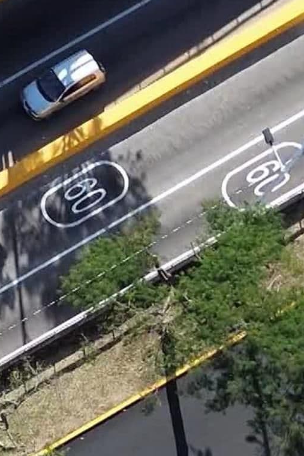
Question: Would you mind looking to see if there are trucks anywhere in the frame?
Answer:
No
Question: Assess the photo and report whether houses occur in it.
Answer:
No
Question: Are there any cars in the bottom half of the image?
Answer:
No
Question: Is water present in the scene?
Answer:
No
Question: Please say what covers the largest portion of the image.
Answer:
paved ground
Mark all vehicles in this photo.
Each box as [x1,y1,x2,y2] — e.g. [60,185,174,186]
[17,46,110,120]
